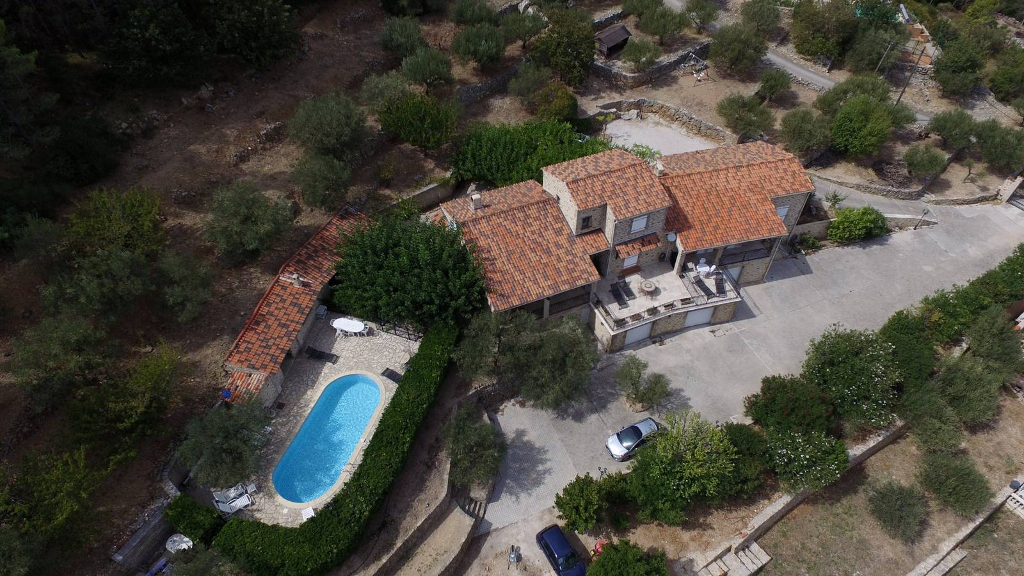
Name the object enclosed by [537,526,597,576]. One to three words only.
car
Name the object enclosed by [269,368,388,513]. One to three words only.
swimming pool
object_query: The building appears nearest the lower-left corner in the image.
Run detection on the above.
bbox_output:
[222,205,387,425]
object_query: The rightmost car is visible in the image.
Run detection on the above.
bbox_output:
[605,411,669,460]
